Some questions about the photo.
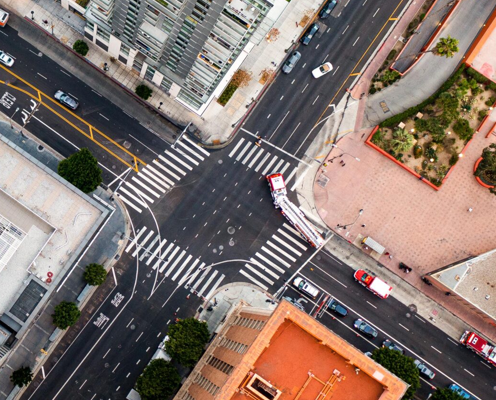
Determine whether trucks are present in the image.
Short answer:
Yes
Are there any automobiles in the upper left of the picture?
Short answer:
Yes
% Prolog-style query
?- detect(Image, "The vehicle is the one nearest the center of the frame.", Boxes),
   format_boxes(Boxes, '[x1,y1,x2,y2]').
[264,166,290,199]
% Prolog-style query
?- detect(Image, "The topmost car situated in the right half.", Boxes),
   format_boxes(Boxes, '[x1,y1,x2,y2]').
[316,0,339,21]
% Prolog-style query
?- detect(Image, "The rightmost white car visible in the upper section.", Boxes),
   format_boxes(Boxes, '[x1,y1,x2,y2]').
[310,62,334,81]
